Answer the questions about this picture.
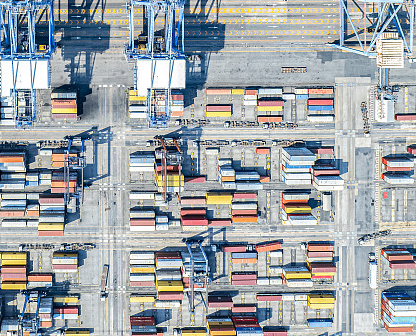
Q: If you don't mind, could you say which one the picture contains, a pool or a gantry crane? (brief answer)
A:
gantry crane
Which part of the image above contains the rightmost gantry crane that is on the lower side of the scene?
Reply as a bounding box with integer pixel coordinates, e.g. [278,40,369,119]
[181,241,213,317]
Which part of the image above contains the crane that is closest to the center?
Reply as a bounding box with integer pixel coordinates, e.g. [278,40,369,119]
[156,138,186,209]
